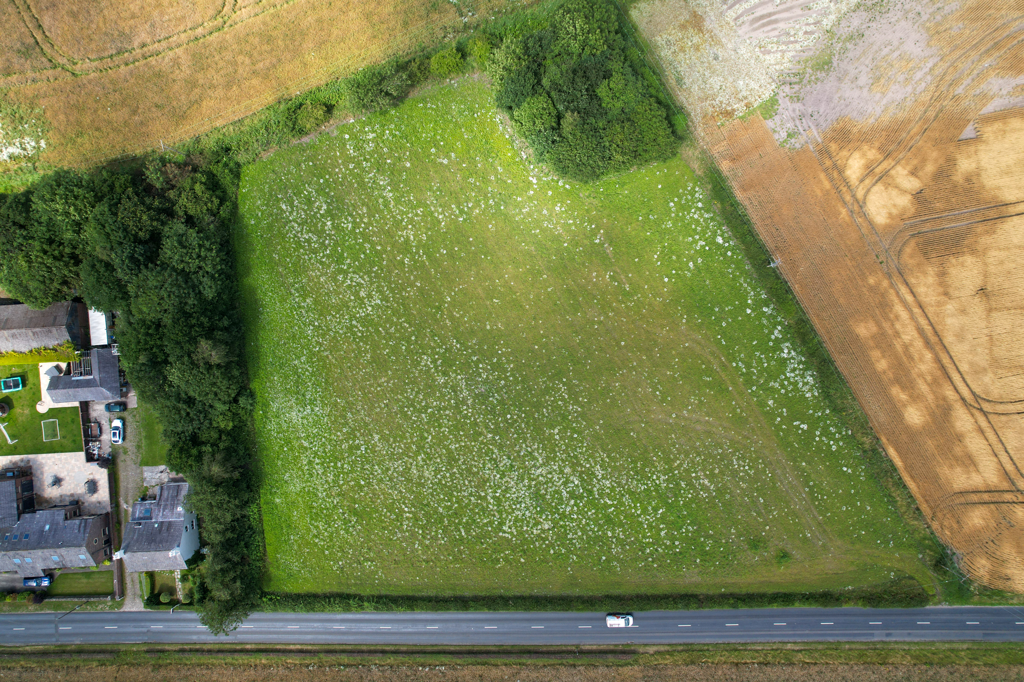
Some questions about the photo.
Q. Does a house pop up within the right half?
No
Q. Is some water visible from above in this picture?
No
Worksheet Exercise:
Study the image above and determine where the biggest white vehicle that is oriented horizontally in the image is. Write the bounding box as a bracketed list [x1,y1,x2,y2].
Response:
[606,614,634,628]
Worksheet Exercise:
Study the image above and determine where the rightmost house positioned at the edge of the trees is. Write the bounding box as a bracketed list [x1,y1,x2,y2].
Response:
[115,482,199,572]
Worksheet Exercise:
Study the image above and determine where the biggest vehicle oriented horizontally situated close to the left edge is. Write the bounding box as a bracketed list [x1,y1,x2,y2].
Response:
[22,575,54,588]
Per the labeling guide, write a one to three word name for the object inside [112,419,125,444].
vehicle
